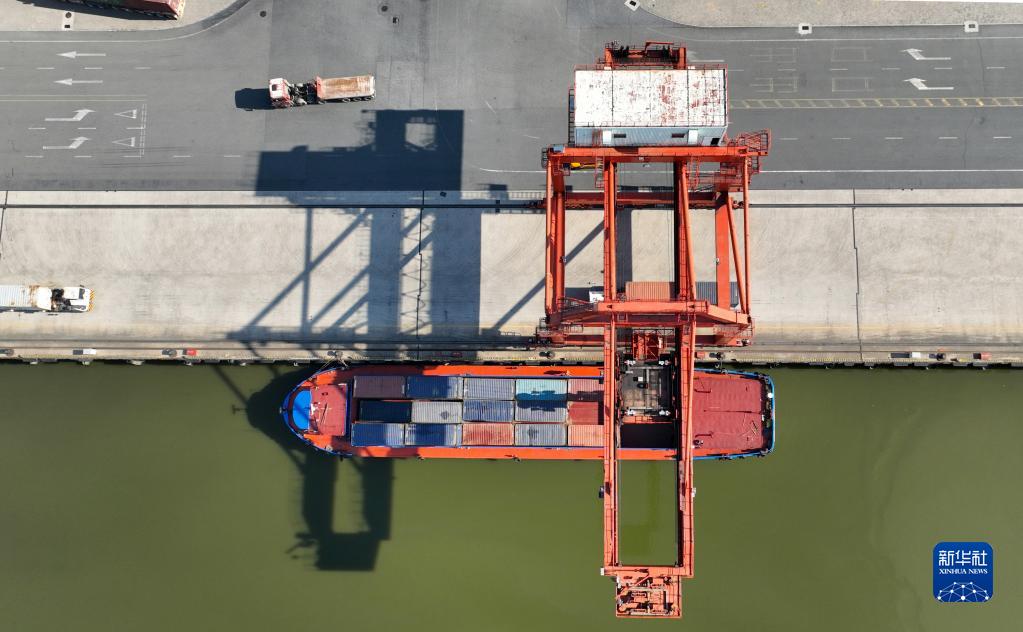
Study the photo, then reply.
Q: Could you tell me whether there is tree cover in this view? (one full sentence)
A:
No, the picture contains no tree cover.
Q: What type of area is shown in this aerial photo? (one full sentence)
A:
The area seen from above is a port.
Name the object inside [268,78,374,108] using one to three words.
truck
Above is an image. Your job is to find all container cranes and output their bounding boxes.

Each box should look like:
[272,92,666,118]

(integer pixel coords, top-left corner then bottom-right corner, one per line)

[529,40,770,617]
